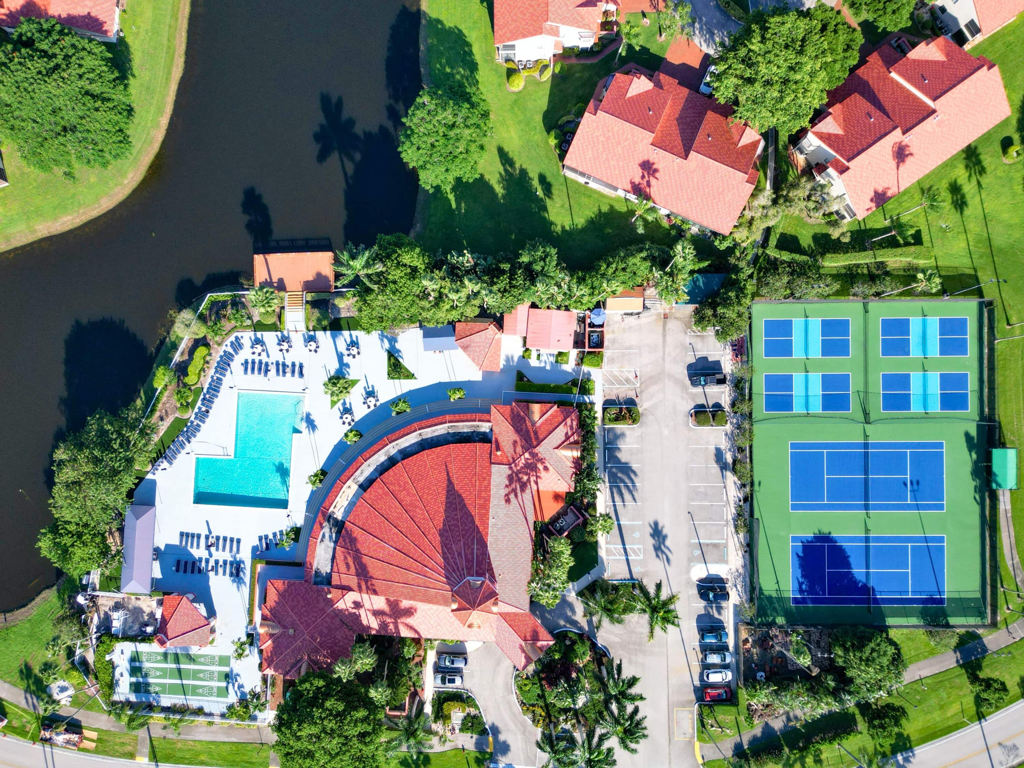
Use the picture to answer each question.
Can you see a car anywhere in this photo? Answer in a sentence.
Yes, there's a car here.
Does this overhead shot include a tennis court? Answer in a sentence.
Yes, there's a tennis court here.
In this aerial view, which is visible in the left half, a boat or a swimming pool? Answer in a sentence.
There is a swimming pool in the left half.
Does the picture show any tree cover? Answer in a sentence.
Yes, there is tree cover in the image.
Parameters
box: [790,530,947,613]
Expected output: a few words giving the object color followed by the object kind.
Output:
blue tennis court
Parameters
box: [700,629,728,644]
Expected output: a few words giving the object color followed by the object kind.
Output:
blue car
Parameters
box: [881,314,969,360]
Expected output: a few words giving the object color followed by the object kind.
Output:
blue sports court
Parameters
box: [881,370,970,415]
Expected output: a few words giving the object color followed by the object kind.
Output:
blue sports court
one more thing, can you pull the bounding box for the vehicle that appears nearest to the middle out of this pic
[690,373,726,388]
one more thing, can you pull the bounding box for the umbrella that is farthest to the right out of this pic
[591,309,606,324]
